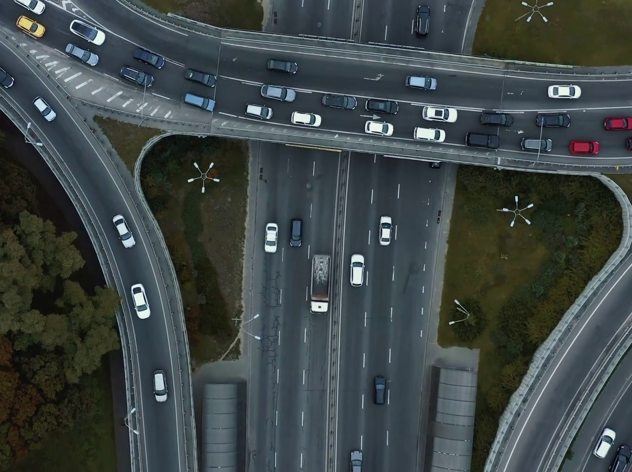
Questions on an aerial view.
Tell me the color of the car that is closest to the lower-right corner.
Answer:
black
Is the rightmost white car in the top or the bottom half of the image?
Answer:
bottom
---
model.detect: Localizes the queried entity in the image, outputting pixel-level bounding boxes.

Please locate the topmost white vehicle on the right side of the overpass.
[548,84,581,99]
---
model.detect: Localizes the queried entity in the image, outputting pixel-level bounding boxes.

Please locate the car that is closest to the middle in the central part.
[288,218,304,248]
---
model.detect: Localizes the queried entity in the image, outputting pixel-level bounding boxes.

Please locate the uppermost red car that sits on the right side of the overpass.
[605,116,632,131]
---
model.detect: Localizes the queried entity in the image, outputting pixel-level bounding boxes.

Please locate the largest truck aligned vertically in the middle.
[308,254,331,313]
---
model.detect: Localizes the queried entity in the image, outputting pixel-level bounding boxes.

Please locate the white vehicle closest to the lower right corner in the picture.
[593,428,615,458]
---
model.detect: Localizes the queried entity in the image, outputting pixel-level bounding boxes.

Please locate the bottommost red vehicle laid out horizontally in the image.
[569,140,600,155]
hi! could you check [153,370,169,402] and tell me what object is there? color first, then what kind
white car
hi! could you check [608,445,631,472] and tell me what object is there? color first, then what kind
black car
